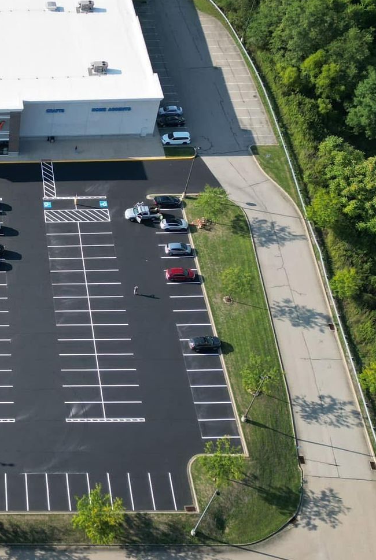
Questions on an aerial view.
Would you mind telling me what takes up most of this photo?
paved ground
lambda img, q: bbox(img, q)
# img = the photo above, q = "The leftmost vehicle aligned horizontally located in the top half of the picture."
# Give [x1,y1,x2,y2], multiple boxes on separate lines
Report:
[125,207,160,223]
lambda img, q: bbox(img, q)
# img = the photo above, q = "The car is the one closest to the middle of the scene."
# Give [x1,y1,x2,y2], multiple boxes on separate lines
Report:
[165,268,196,283]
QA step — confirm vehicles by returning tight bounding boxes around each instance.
[165,268,196,283]
[0,244,5,257]
[125,207,160,223]
[187,337,221,352]
[160,132,191,146]
[158,117,185,129]
[152,197,181,209]
[159,107,184,118]
[159,219,190,233]
[164,243,193,257]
